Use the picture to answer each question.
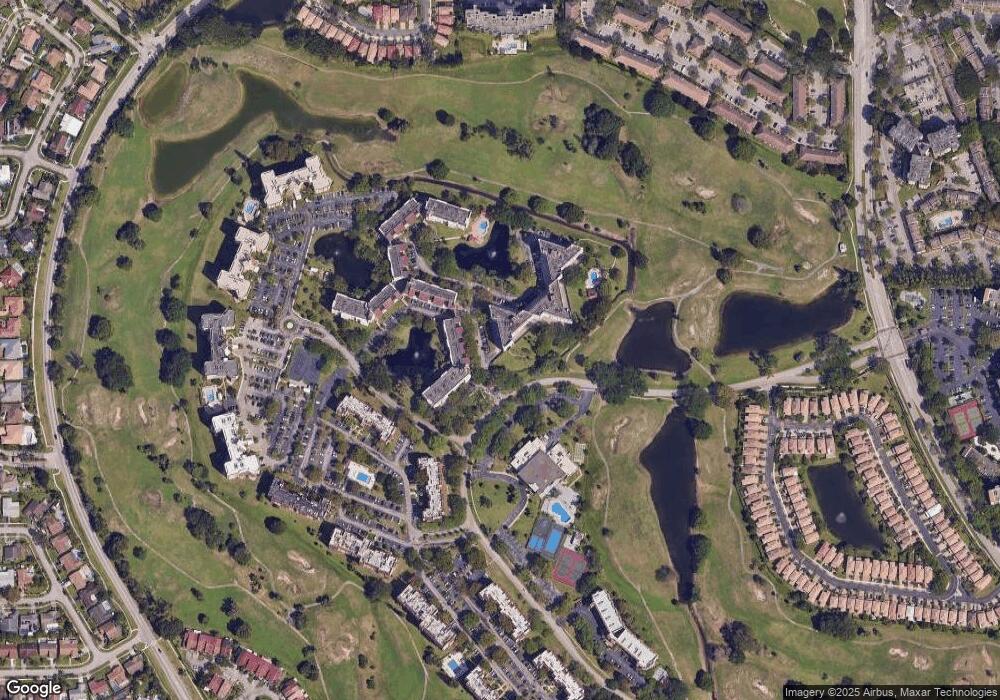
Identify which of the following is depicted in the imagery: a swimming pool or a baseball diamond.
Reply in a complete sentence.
Looking from above, you can make out a swimming pool.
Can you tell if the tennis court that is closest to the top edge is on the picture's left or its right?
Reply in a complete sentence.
You can find the tennis court that is closest to the top edge on the right side of the picture.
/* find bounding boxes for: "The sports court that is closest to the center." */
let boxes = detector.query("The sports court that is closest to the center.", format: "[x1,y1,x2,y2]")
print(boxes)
[526,516,562,558]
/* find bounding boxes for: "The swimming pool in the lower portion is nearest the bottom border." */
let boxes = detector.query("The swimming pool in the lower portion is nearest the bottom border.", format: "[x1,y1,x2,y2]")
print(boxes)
[442,652,469,679]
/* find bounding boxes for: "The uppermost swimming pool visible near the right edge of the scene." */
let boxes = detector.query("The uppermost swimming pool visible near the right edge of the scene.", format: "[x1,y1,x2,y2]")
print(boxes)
[928,210,963,228]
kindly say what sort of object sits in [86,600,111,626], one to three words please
house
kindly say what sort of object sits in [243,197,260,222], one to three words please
swimming pool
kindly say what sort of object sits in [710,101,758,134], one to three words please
building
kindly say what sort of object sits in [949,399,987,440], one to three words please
tennis court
